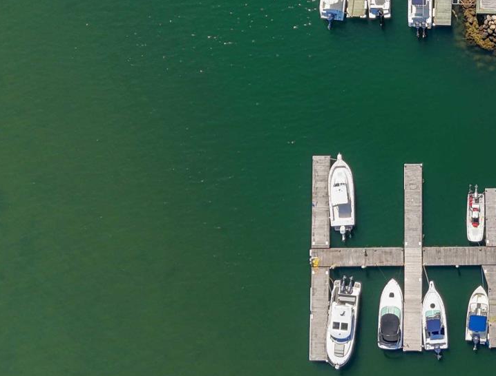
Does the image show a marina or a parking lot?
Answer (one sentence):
The area seen from above is a marina.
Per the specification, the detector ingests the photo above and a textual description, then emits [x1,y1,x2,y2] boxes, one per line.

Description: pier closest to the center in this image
[311,155,331,248]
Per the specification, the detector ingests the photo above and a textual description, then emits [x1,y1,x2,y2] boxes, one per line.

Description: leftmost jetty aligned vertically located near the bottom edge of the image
[308,267,330,362]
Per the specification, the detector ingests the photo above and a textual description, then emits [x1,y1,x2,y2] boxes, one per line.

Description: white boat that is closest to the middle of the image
[328,152,357,240]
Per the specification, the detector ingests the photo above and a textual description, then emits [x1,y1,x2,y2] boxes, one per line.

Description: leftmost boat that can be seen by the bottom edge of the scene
[327,268,362,372]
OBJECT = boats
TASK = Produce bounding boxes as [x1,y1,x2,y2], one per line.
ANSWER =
[319,0,349,32]
[367,0,390,29]
[328,152,357,240]
[327,268,362,372]
[466,280,491,354]
[408,0,433,39]
[422,266,447,363]
[377,267,405,350]
[465,181,487,246]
